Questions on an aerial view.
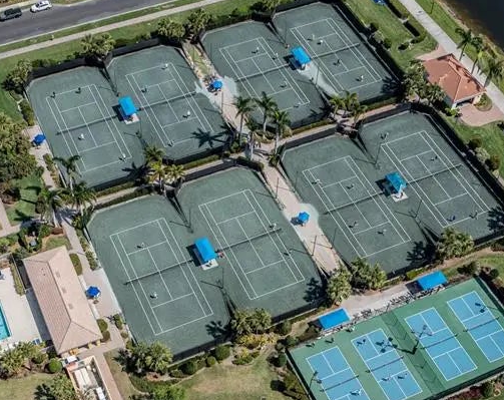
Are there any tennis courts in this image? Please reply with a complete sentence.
Yes, there is a tennis court in the image.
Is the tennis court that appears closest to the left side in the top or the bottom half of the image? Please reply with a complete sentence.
Seen from above, the tennis court that appears closest to the left side lies in the top half of the view.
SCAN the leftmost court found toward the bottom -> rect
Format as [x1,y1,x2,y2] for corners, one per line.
[84,193,237,361]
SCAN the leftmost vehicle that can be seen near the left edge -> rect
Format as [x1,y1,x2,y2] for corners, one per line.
[0,7,21,21]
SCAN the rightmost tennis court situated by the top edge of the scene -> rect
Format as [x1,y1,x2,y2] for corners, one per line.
[272,1,405,110]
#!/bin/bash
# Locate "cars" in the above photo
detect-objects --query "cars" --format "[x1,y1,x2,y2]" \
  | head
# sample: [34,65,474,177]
[0,7,21,21]
[31,0,52,13]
